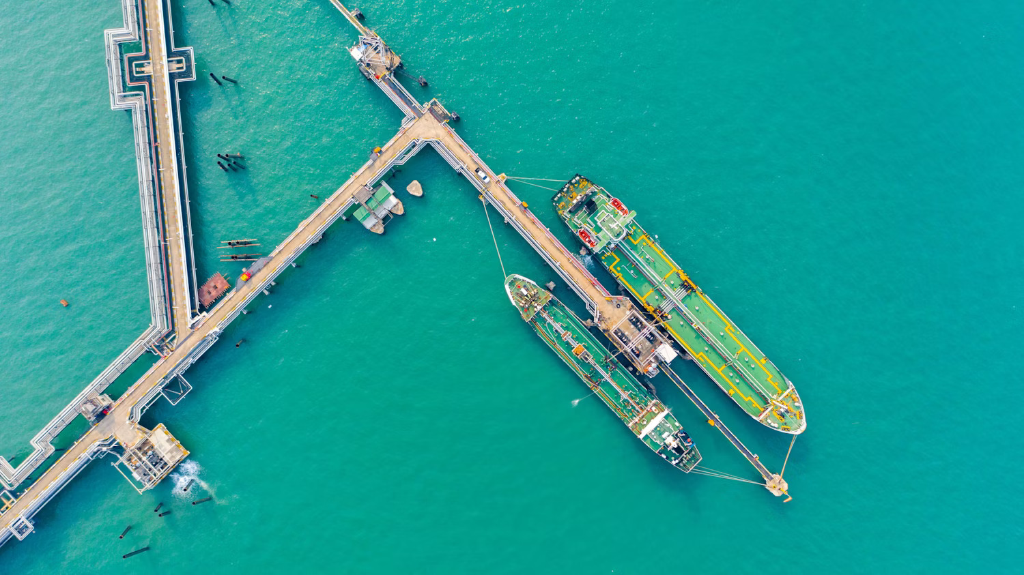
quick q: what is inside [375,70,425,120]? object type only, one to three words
pier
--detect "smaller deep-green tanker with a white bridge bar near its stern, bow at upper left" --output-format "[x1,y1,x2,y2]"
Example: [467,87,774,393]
[505,274,702,473]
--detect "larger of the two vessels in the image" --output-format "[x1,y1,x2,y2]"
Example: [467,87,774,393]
[551,174,806,435]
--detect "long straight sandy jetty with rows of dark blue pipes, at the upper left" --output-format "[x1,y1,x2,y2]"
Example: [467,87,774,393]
[125,0,207,357]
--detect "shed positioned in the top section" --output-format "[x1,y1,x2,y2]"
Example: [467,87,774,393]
[351,180,399,230]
